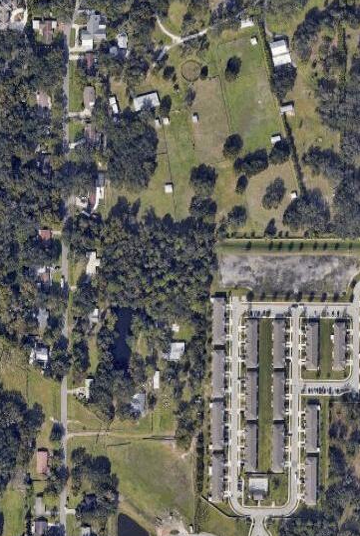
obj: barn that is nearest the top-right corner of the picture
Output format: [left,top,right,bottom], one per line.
[269,43,294,68]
